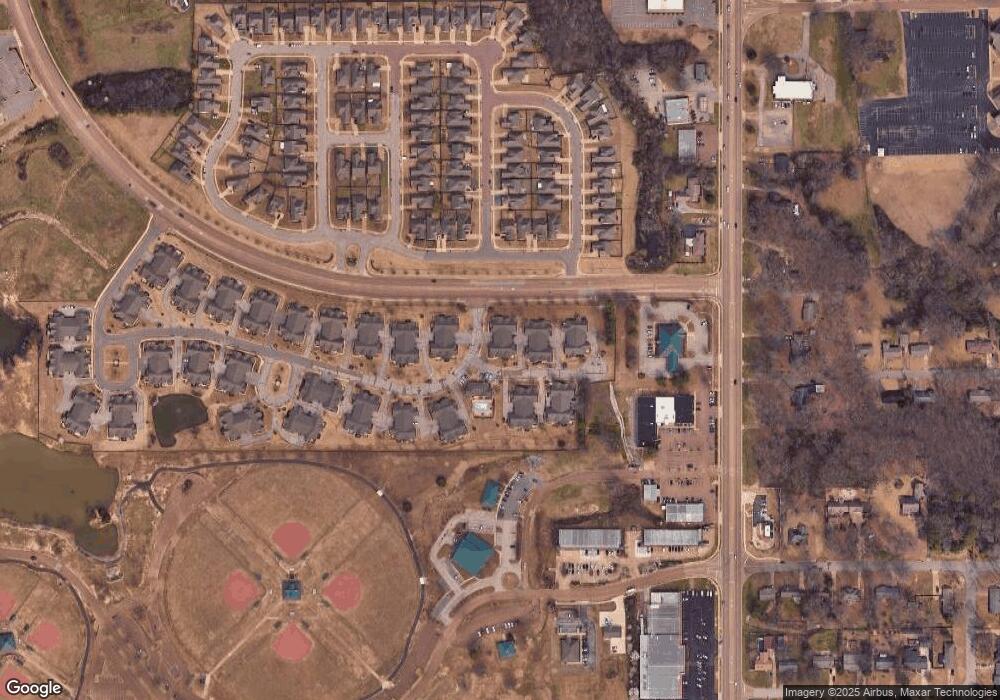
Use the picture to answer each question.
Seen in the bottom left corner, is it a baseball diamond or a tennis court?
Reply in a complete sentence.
The feature located in the bottom left corner is a baseball diamond.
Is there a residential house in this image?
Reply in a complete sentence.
Yes, the image includes a residential house.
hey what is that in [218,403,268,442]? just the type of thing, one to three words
building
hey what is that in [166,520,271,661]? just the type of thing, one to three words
baseball field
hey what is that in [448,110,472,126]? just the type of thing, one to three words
house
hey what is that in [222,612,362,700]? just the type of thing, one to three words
baseball field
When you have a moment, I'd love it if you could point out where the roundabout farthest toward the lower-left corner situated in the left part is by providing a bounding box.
[95,334,139,393]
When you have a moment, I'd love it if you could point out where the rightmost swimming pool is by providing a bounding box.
[472,397,492,418]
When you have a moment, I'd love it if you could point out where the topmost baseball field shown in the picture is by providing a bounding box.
[222,465,362,569]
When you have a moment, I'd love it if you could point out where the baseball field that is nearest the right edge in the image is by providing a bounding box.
[313,520,418,661]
